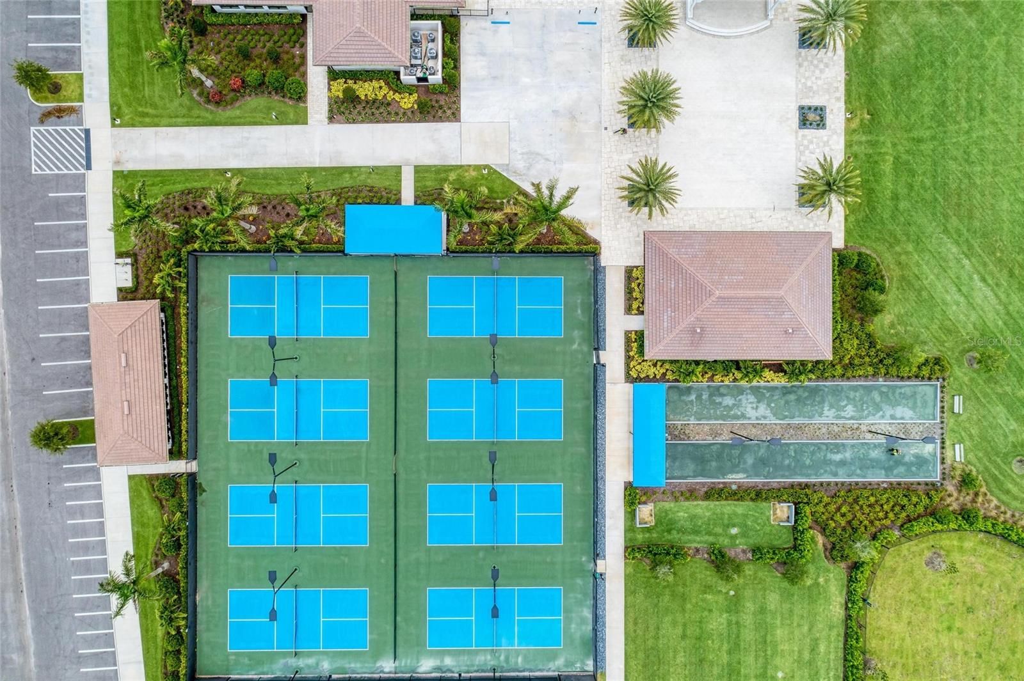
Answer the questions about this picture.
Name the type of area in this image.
sports ground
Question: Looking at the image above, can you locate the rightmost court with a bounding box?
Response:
[634,382,941,482]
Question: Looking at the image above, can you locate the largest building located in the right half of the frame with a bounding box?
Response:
[643,231,834,363]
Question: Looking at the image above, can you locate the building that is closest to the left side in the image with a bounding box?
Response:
[88,299,175,468]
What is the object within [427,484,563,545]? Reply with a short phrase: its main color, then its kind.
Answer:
blue sports court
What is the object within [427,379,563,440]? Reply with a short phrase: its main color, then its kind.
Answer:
blue sports court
